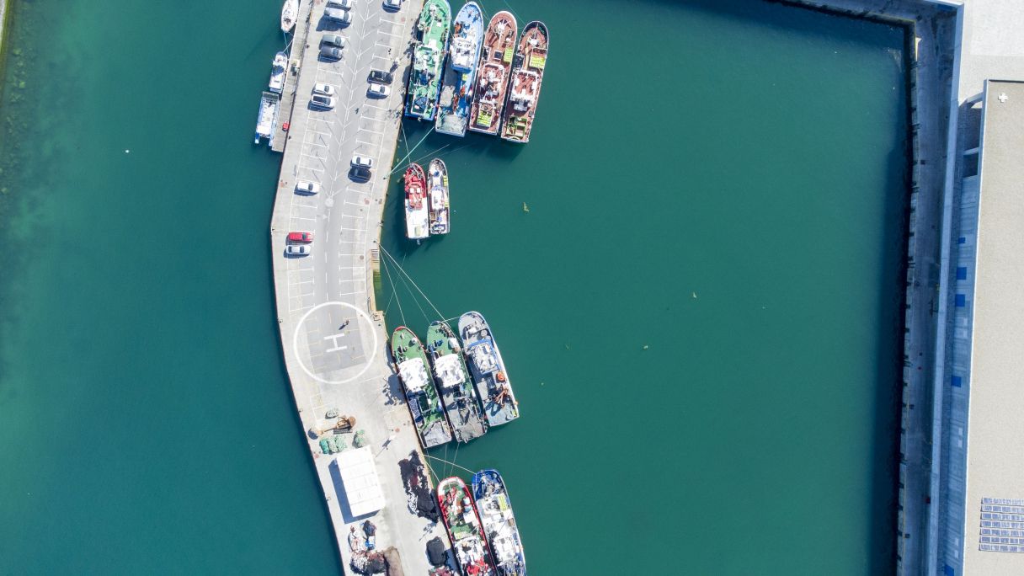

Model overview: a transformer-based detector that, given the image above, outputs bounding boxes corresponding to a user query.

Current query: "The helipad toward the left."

[294,302,377,384]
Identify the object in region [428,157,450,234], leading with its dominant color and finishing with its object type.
white boat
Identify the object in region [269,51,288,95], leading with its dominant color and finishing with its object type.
white boat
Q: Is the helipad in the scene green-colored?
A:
No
